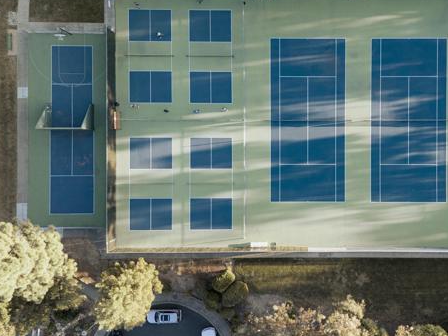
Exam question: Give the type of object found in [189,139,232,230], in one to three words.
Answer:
sports court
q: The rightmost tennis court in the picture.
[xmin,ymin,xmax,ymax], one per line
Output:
[372,39,447,201]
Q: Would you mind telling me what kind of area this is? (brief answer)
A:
sports ground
